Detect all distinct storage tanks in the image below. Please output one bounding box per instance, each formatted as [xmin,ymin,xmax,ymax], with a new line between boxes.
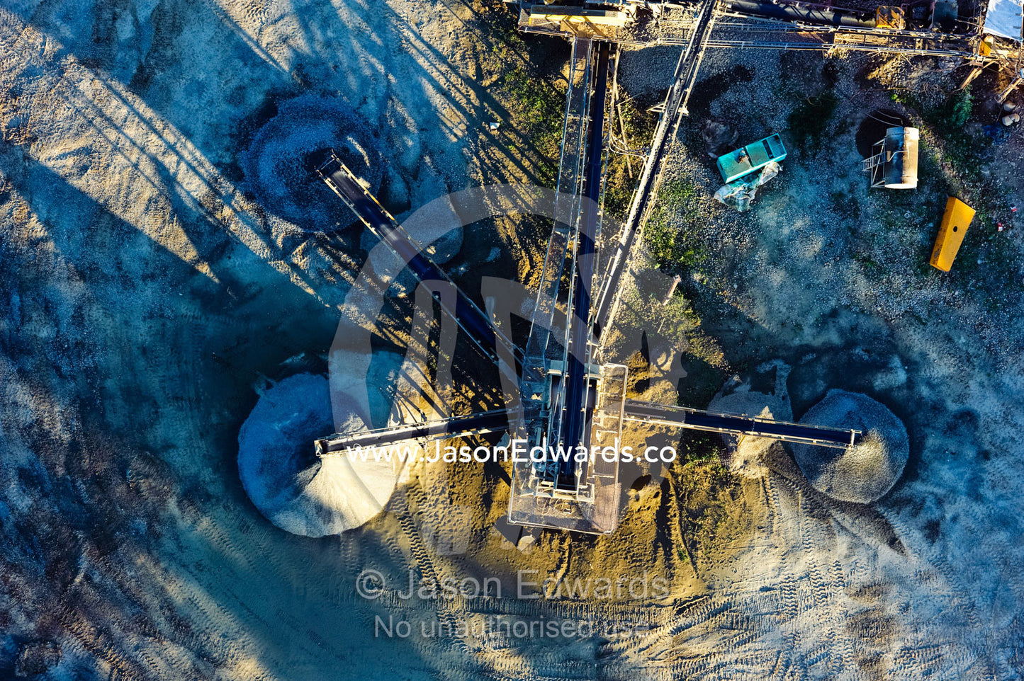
[855,123,920,193]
